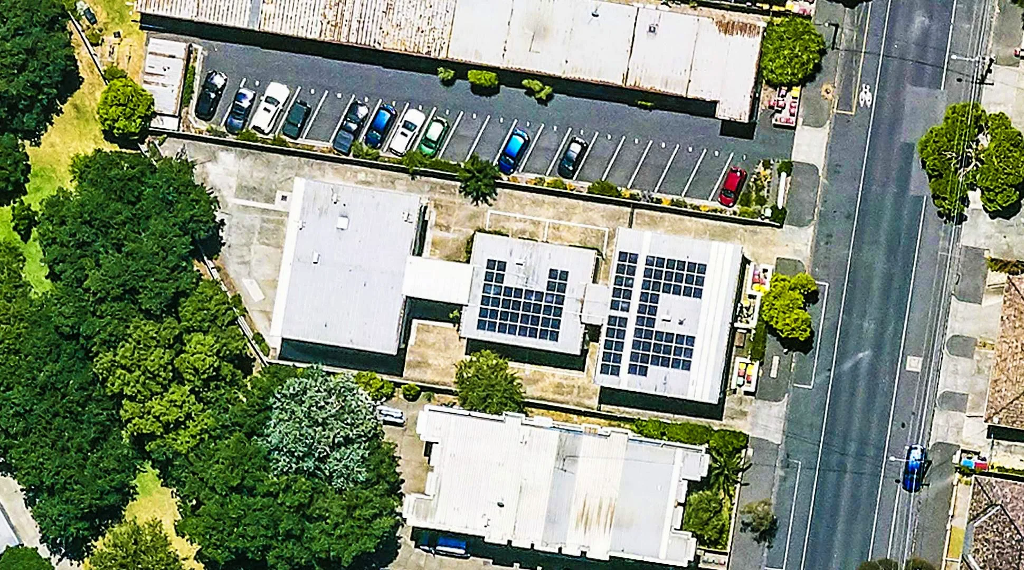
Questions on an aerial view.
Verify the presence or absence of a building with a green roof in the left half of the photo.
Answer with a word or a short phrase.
No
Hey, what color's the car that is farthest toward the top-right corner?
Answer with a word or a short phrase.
red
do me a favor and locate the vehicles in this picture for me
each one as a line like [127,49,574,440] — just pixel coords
[333,101,369,155]
[228,87,255,134]
[253,81,288,134]
[719,166,748,208]
[198,70,226,121]
[282,99,313,141]
[499,128,530,175]
[417,531,472,558]
[389,107,424,158]
[559,136,589,179]
[370,401,404,426]
[420,116,450,158]
[365,103,396,148]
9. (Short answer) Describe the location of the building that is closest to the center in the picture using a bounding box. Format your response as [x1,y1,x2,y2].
[459,231,601,356]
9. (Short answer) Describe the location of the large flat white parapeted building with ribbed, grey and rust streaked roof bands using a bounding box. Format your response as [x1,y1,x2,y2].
[406,405,713,565]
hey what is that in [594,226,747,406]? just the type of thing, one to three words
building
